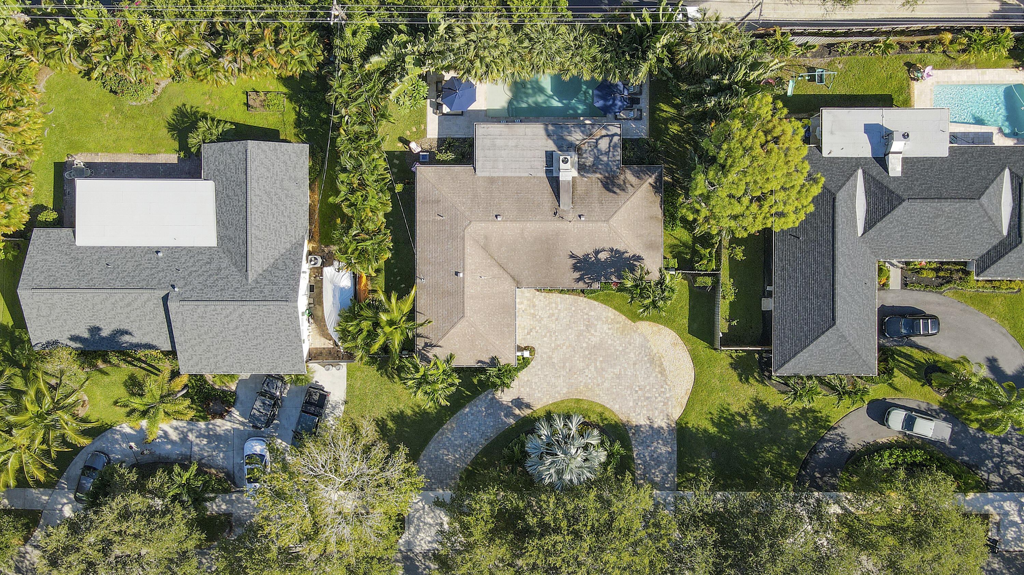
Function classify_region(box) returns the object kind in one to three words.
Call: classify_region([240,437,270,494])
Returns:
car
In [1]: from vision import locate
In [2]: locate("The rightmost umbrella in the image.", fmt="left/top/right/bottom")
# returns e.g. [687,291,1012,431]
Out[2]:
[592,79,629,116]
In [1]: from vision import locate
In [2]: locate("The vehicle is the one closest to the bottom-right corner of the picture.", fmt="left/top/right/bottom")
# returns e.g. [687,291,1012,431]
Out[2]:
[880,407,955,445]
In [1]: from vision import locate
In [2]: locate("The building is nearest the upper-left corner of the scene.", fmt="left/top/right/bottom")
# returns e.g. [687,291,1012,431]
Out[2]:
[18,139,311,376]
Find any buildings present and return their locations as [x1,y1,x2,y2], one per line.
[18,139,311,376]
[767,106,1024,378]
[414,121,665,368]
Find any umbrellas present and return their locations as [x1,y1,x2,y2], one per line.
[592,79,629,116]
[440,76,476,111]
